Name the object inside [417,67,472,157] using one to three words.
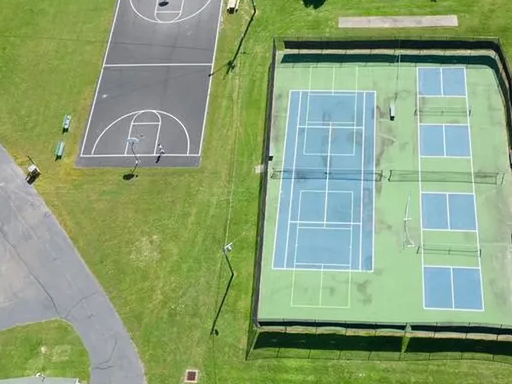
sports court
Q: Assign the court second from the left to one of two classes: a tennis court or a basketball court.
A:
tennis court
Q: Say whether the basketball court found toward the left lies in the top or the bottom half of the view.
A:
top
